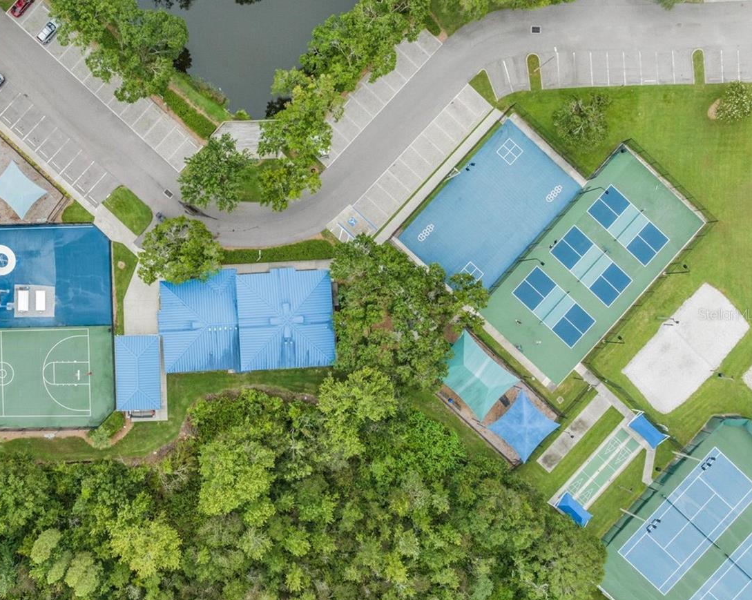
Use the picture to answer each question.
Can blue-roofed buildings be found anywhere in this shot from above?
Yes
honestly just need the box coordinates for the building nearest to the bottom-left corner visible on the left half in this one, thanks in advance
[114,335,161,411]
